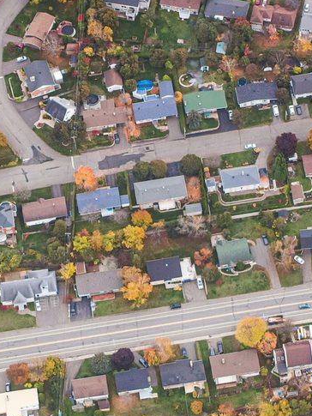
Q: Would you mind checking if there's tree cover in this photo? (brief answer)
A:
Yes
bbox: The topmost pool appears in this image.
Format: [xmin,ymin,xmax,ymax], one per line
[60,24,75,38]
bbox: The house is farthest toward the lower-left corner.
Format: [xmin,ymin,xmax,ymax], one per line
[0,388,40,416]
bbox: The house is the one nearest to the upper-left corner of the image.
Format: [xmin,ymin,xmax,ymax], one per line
[25,12,55,51]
